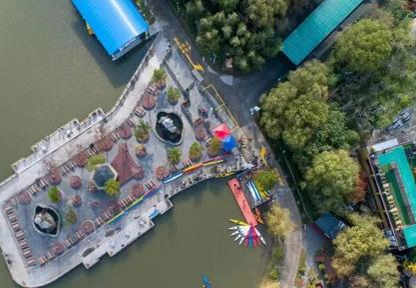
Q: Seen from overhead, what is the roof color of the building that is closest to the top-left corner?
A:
blue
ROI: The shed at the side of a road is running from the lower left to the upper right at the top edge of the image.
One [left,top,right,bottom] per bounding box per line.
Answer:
[281,0,371,68]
